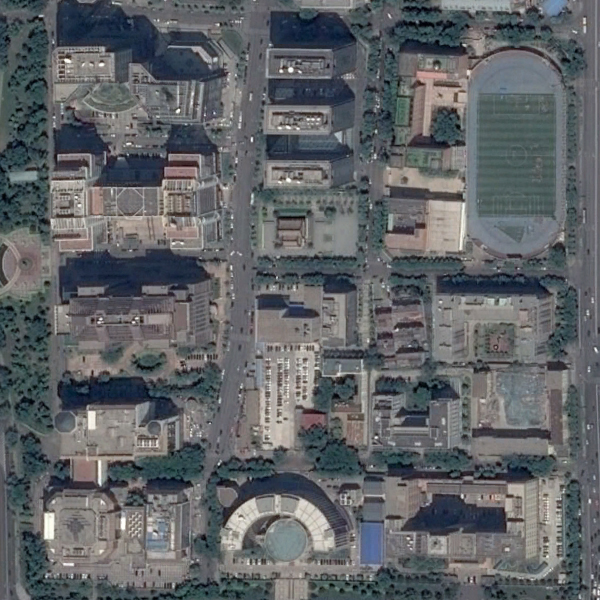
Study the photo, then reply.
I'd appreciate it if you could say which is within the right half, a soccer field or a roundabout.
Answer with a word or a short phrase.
soccer field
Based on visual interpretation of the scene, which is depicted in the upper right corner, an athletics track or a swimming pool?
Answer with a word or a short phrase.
athletics track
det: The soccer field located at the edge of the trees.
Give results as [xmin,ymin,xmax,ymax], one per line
[477,94,554,216]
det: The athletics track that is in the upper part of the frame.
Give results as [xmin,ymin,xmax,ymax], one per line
[468,48,565,257]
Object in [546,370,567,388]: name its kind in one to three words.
shed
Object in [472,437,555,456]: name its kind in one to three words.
shed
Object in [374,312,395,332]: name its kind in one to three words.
house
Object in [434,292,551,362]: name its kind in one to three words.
building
